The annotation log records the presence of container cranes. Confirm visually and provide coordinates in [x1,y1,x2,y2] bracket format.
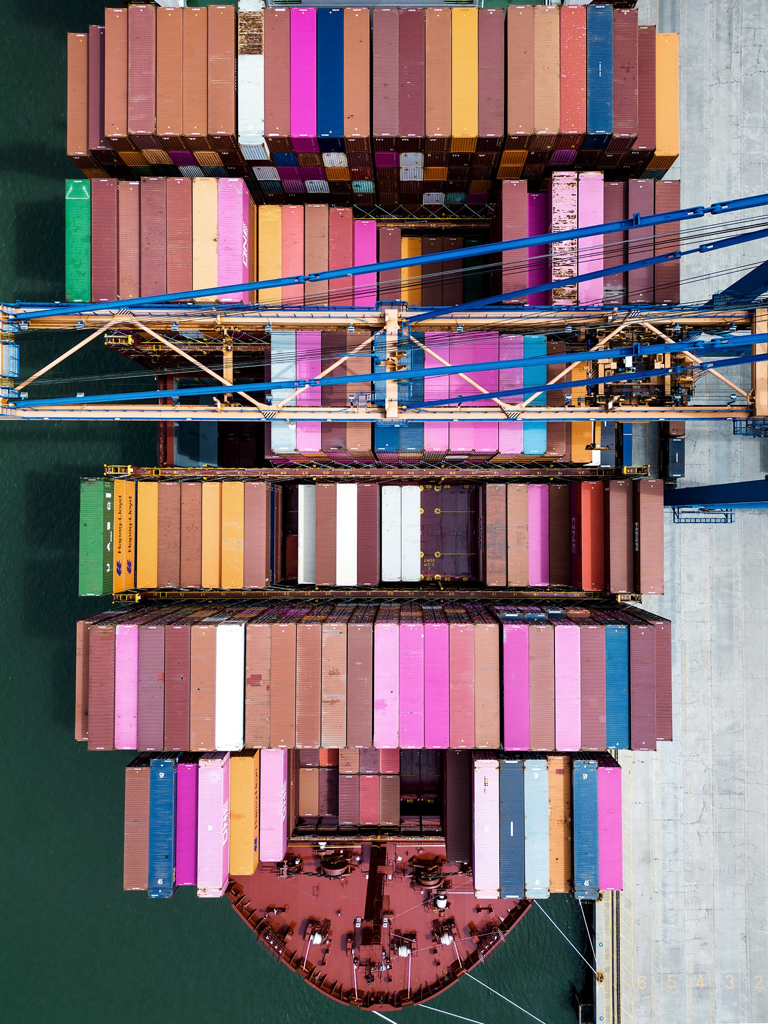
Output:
[0,193,768,523]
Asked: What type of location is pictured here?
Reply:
port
